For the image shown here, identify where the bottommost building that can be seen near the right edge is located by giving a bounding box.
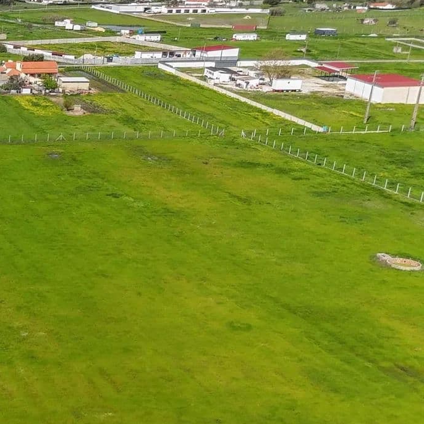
[346,68,424,103]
